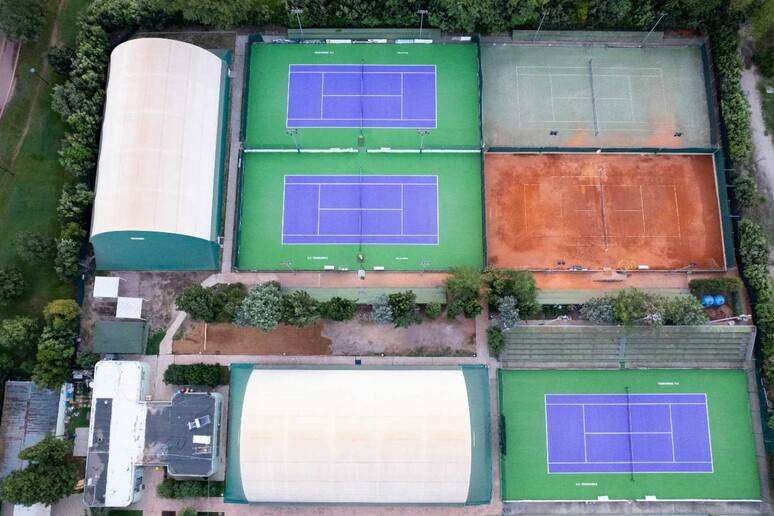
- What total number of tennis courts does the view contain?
5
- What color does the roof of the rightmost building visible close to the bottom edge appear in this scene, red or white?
white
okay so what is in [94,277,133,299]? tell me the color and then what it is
white gazebo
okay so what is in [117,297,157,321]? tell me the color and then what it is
white gazebo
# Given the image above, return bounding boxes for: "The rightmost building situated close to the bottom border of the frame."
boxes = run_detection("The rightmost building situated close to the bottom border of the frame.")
[224,364,492,507]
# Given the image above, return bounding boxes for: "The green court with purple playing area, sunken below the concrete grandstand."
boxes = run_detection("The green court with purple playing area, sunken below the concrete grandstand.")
[500,370,761,502]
